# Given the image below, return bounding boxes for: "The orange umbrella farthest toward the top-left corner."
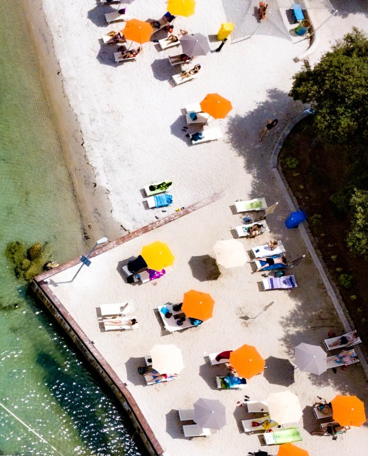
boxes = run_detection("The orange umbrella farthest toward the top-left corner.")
[120,22,153,51]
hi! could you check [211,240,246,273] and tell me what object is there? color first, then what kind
white umbrella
